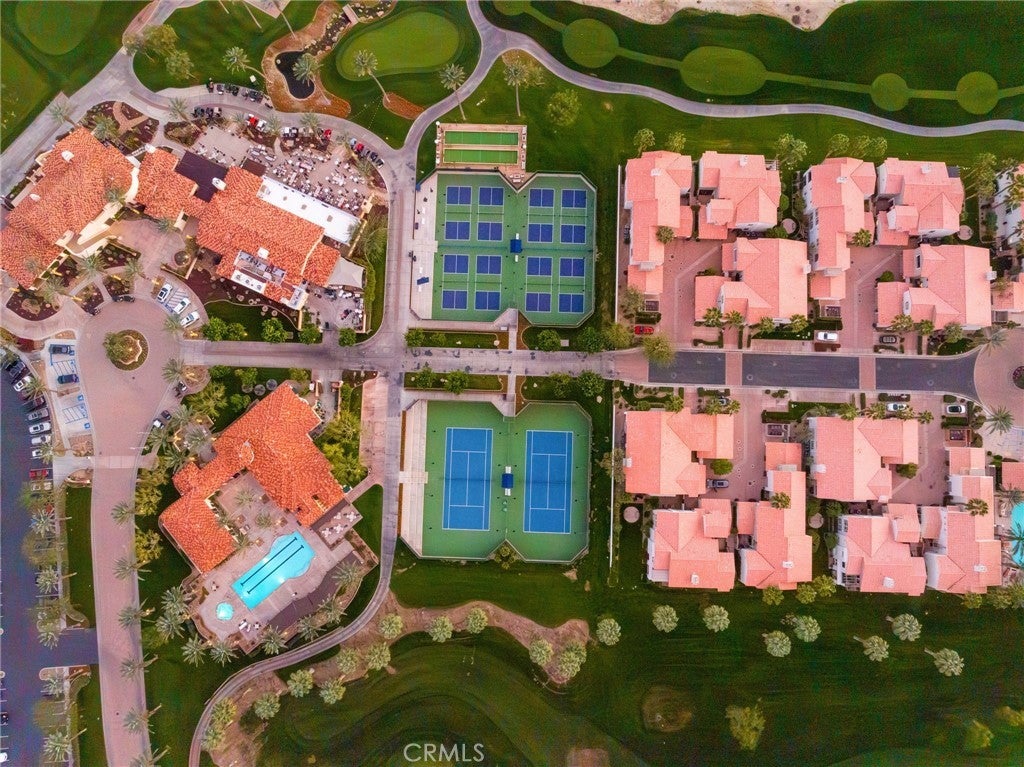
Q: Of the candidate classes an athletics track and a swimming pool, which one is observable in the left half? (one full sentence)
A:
The feature located in the left half is a swimming pool.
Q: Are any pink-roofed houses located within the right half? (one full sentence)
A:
Yes, there is a pink-roofed house within the right half.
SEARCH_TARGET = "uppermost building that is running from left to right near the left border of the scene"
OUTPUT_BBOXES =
[0,126,365,311]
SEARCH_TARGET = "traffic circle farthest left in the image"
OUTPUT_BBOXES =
[103,327,149,371]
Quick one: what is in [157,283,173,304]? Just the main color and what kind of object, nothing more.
white car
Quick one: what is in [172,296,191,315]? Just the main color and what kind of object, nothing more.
white car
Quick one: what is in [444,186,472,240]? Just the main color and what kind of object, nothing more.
blue sports court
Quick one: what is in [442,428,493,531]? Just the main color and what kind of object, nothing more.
blue tennis court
